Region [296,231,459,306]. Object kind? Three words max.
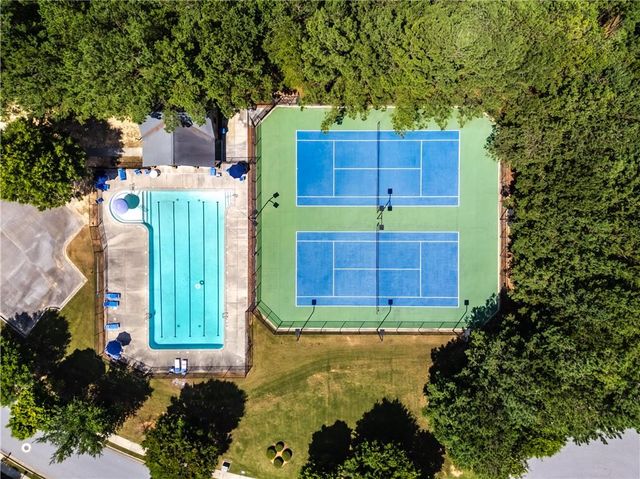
tennis court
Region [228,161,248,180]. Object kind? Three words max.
umbrella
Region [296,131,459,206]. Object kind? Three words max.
tennis court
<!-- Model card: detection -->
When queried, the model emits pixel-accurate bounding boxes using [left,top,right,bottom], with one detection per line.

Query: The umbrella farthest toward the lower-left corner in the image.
[106,339,124,356]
